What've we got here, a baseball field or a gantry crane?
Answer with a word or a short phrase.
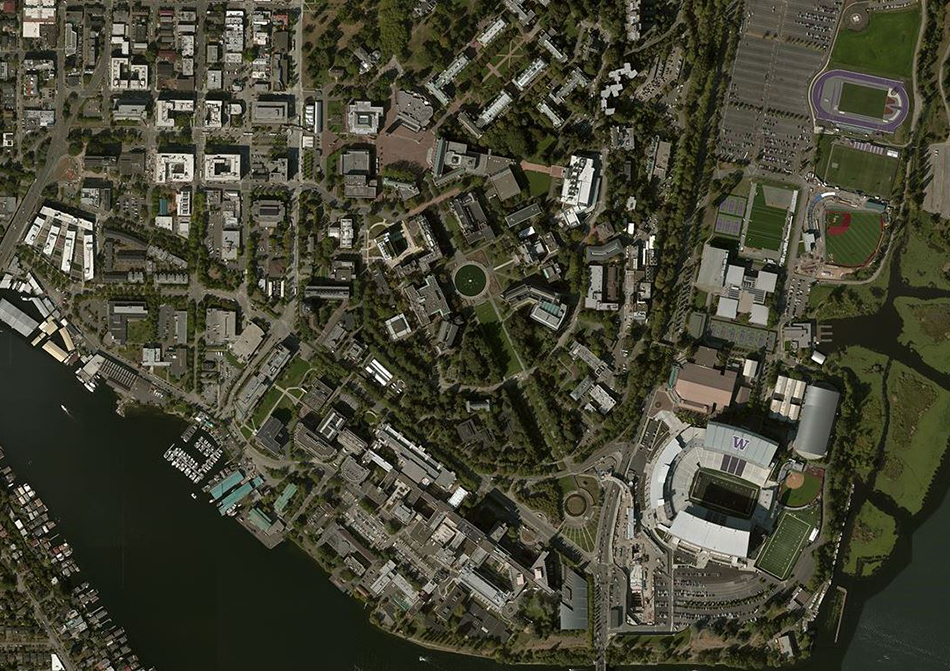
baseball field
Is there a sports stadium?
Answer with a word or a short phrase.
Yes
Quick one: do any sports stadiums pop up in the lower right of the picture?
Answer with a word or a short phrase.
Yes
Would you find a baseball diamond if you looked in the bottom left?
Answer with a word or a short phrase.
No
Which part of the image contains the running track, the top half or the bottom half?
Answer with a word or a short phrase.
top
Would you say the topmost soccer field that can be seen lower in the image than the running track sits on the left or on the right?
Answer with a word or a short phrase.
right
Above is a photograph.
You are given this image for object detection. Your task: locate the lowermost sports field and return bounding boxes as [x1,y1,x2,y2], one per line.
[755,511,815,583]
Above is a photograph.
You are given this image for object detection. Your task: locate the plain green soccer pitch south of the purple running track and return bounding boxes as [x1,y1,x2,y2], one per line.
[823,143,902,201]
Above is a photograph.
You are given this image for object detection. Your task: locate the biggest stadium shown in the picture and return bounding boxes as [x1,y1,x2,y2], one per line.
[650,421,782,563]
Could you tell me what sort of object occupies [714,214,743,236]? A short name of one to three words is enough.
tennis court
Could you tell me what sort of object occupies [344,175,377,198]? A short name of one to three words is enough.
building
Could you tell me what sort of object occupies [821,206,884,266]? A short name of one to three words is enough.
baseball field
